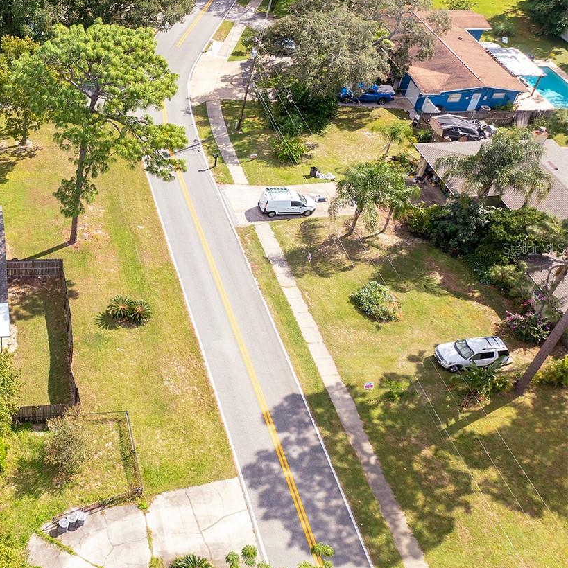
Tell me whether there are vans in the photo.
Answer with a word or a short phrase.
Yes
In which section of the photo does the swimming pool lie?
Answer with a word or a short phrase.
top right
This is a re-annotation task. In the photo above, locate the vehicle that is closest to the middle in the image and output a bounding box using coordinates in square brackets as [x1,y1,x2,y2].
[258,188,319,218]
